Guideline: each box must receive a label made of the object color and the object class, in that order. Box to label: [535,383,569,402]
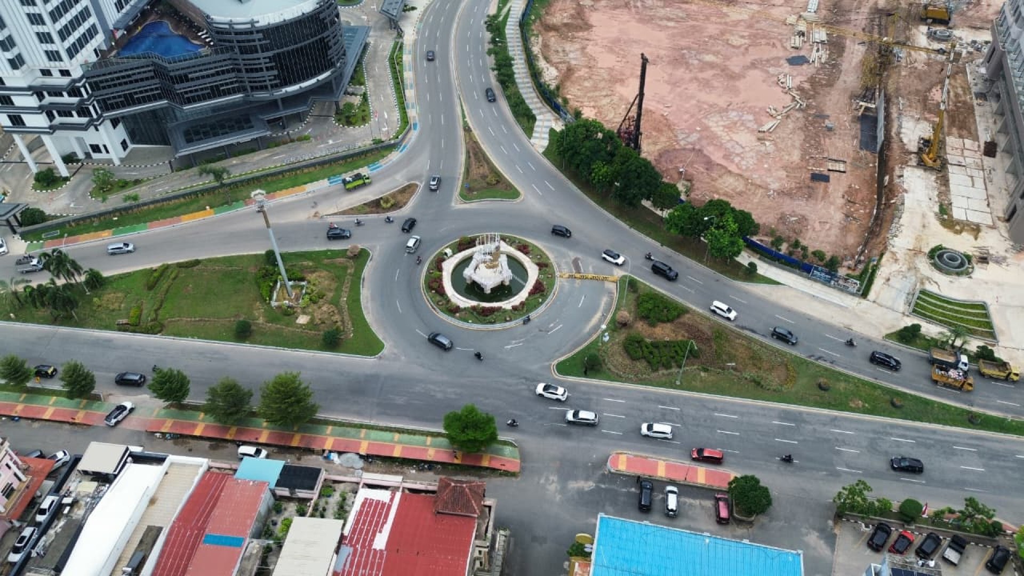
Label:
white car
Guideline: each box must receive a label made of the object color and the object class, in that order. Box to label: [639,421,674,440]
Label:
white car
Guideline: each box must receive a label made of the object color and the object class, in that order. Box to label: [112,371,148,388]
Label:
black car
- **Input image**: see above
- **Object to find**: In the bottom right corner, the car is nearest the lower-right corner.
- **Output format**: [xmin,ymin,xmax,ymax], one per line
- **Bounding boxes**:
[980,542,1011,576]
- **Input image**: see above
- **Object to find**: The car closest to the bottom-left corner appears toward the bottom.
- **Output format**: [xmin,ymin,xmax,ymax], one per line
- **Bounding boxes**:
[3,523,42,566]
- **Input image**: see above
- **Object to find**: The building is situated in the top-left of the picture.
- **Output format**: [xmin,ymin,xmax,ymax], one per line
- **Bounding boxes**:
[0,0,373,177]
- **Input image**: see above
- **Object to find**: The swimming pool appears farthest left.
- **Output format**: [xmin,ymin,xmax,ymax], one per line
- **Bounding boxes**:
[118,20,207,58]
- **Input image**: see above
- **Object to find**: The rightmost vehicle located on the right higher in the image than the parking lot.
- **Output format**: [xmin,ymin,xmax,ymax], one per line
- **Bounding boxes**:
[975,357,1024,386]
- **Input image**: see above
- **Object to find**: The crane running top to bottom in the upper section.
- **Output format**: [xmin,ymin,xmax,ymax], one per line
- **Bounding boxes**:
[907,43,959,169]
